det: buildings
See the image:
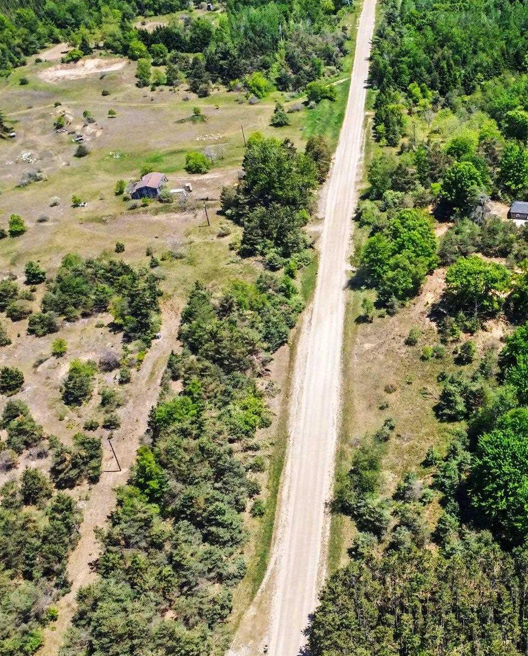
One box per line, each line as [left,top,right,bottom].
[126,174,167,203]
[510,202,528,221]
